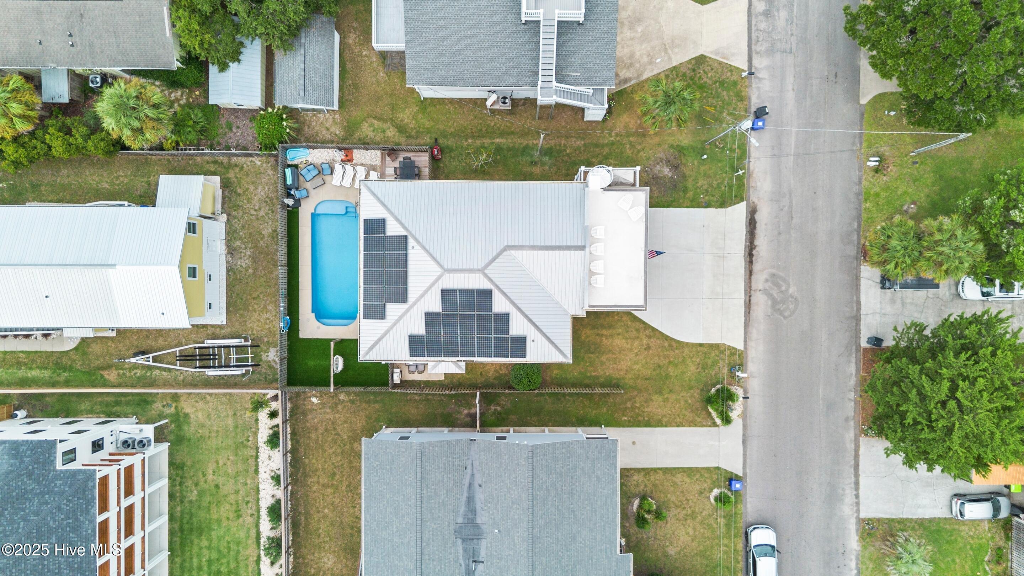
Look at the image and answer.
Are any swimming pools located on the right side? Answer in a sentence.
No, the scene shows no swimming pool on the right side.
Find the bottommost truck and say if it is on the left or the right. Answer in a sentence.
The bottommost truck sits on the right side.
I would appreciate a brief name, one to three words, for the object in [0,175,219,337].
house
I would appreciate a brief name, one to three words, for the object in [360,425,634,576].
house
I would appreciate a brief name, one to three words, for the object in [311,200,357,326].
swimming pool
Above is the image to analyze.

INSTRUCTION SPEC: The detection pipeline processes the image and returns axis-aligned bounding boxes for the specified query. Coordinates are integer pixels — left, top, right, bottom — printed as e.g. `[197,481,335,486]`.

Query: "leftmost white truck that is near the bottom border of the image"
[745,524,781,576]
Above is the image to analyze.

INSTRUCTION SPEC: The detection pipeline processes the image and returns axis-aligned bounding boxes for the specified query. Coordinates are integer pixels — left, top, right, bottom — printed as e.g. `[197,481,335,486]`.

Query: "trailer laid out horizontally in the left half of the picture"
[114,335,258,380]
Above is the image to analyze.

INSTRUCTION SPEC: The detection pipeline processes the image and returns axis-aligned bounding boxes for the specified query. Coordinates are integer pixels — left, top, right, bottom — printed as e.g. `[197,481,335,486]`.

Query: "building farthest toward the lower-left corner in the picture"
[0,414,174,576]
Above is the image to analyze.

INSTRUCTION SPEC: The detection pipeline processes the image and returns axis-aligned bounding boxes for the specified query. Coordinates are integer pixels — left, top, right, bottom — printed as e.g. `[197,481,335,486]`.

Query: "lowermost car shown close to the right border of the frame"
[948,492,1008,523]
